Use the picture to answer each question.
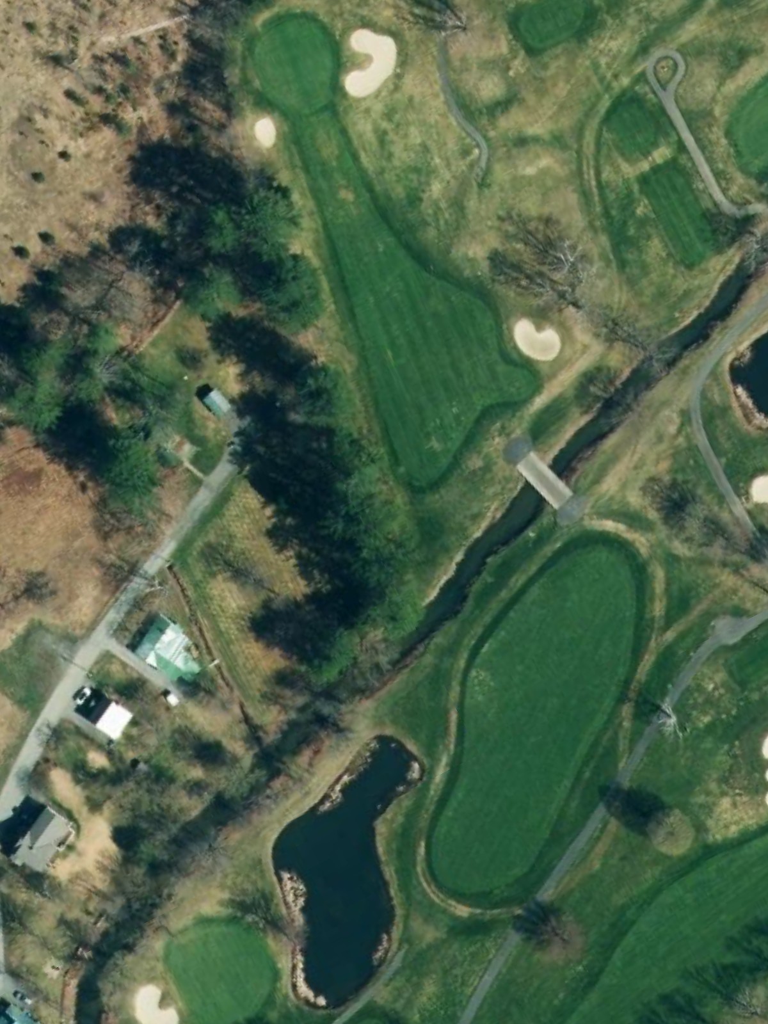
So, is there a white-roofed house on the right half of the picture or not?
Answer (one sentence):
No, I see no white-roofed house on the right half of the picture.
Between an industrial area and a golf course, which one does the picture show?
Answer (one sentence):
The area seen from above is a golf course.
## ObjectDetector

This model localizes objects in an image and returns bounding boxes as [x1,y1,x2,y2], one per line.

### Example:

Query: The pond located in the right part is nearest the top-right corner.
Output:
[730,333,768,432]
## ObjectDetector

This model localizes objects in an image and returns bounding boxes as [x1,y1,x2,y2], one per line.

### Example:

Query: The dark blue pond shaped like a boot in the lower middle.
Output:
[273,736,422,1007]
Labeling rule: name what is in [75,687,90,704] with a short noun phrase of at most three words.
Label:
car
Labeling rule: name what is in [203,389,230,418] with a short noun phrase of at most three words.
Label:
shed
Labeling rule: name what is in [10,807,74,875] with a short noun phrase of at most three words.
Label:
house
